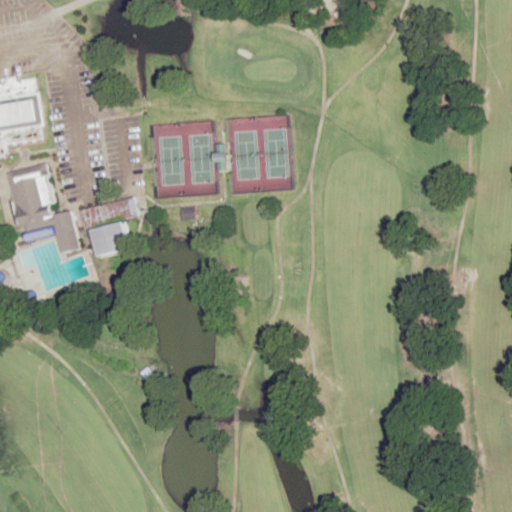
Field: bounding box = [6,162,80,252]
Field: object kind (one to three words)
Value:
building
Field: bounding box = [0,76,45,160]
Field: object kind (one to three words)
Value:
building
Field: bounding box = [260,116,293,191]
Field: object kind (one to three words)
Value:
tennis court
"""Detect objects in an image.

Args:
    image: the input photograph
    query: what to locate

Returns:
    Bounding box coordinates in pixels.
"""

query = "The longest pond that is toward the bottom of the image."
[146,236,218,510]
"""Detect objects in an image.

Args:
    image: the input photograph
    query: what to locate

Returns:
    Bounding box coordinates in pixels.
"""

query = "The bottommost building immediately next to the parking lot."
[88,221,128,257]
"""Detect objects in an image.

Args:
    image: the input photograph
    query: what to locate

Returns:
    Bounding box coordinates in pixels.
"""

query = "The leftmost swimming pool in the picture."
[19,240,90,292]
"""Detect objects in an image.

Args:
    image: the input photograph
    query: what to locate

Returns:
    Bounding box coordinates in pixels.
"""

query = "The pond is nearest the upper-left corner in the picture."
[102,0,192,96]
